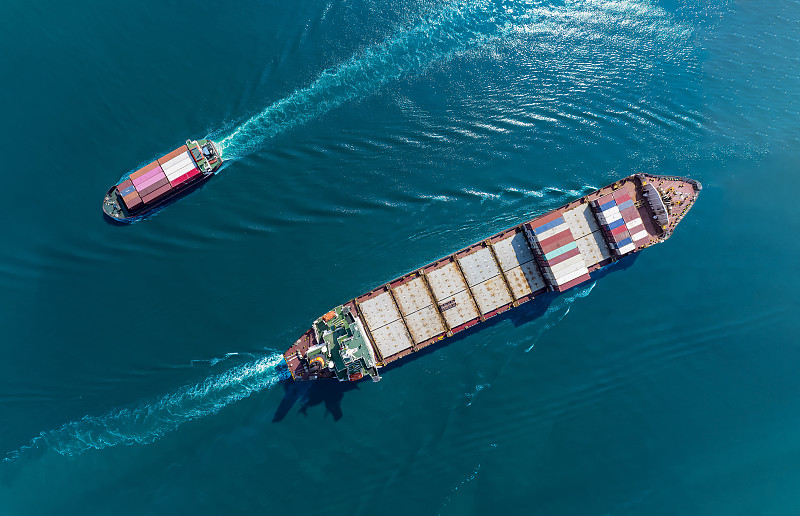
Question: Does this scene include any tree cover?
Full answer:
No, no tree cover is visible.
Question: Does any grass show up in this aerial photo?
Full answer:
No, the picture contains no grass.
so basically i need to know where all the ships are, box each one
[102,137,224,217]
[283,174,702,384]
